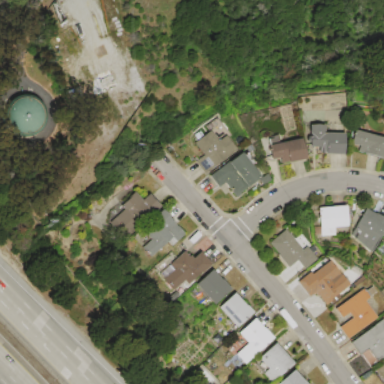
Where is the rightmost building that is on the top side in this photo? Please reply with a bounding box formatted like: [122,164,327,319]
[350,128,384,157]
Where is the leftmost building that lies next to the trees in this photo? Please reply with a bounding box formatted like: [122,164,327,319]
[110,192,164,231]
